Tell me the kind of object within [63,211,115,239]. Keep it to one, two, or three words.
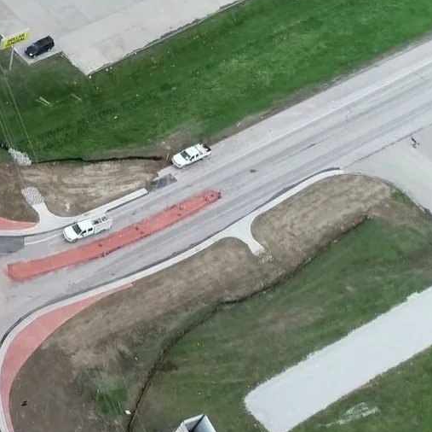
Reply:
truck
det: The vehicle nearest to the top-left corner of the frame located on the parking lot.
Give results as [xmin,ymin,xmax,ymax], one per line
[22,33,56,59]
